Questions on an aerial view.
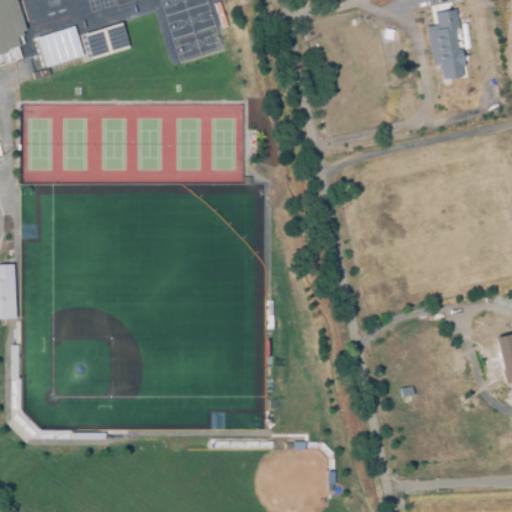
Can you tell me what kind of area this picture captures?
sports ground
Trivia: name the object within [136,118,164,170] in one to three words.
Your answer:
tennis court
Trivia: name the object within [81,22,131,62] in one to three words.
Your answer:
building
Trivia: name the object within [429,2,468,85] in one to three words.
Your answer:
house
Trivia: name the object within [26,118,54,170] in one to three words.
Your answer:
tennis court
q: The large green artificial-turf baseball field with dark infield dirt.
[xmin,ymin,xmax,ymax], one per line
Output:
[22,185,266,430]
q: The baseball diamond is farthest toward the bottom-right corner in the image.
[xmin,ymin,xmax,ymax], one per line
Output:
[256,448,329,512]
